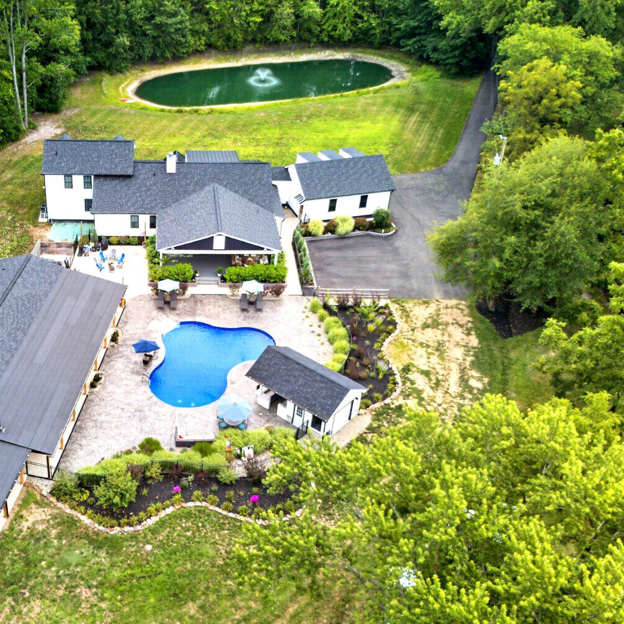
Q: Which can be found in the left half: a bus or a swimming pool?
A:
swimming pool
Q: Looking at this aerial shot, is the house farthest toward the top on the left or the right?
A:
left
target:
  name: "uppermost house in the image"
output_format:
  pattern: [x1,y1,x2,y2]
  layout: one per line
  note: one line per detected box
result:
[39,131,394,286]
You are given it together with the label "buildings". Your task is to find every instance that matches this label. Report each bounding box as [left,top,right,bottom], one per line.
[39,131,394,286]
[0,253,129,537]
[245,346,365,440]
